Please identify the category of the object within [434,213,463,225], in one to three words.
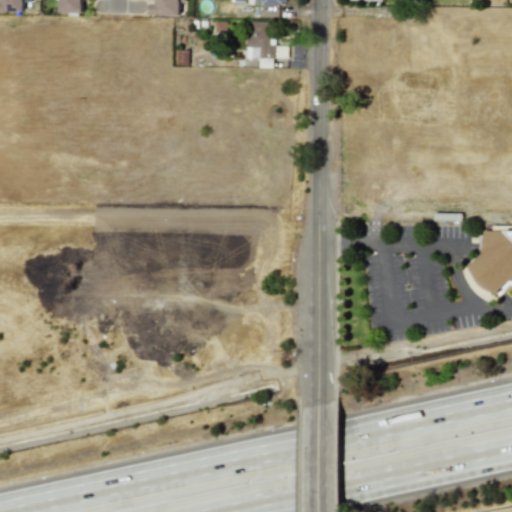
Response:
building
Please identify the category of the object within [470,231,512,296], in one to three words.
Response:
building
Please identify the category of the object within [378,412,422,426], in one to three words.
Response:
vehicle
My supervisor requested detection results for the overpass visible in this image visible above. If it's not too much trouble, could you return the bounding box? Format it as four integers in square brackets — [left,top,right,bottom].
[296,372,340,512]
